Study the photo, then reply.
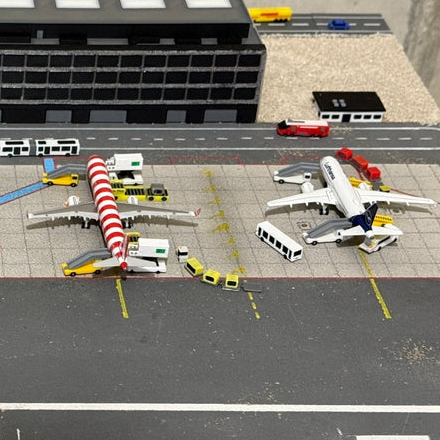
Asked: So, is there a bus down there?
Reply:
Yes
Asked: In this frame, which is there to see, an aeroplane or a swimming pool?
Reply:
aeroplane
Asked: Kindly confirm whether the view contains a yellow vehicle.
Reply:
Yes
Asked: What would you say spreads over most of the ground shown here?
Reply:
paved ground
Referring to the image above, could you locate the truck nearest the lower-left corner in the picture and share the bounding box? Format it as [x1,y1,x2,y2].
[61,249,107,276]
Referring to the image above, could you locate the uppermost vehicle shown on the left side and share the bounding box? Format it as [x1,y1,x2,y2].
[0,138,80,156]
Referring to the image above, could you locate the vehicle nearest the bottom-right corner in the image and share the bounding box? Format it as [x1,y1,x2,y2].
[364,234,395,252]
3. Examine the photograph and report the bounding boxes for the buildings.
[0,0,267,123]
[312,92,387,122]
